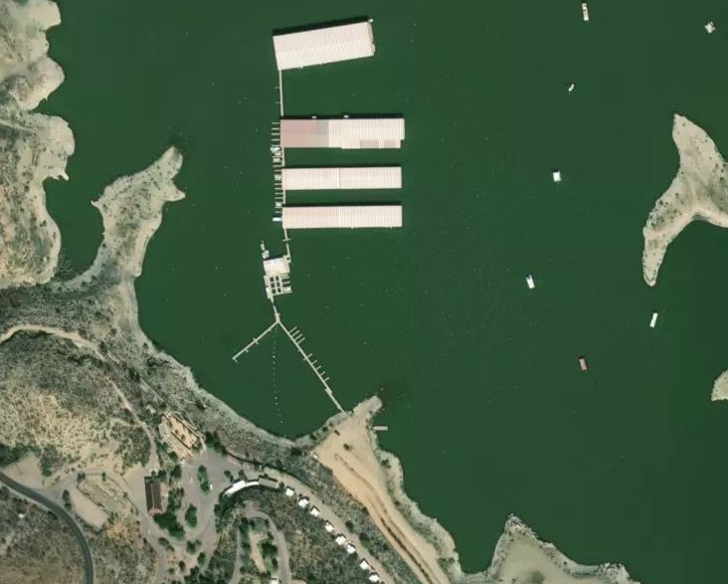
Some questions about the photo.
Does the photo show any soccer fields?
No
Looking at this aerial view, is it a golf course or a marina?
marina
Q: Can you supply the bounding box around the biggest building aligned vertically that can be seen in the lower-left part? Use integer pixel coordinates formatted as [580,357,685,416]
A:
[143,478,163,513]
